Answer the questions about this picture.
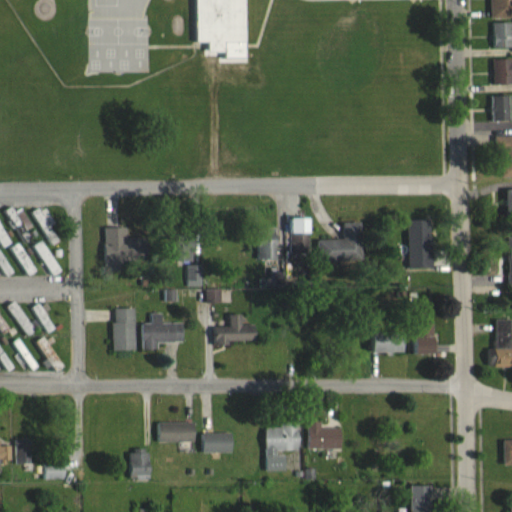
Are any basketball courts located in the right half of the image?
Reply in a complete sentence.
No, I can find no basketball court in the right half of the image.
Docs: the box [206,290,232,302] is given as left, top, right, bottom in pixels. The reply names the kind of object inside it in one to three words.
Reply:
shed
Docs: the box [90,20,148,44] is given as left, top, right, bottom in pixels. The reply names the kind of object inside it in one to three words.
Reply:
basketball court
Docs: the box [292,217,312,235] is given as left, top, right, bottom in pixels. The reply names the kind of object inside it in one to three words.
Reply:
building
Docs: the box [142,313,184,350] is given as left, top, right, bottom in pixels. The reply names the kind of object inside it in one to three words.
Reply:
house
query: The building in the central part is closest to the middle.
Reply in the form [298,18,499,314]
[258,239,280,260]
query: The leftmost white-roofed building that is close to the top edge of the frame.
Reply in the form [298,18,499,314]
[198,0,248,64]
